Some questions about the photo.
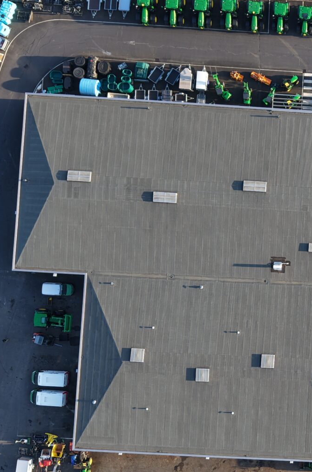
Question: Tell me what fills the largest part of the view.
buildings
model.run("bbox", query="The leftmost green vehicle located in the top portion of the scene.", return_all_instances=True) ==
[135,0,157,29]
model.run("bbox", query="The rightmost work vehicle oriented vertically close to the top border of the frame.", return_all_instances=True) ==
[297,6,312,38]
